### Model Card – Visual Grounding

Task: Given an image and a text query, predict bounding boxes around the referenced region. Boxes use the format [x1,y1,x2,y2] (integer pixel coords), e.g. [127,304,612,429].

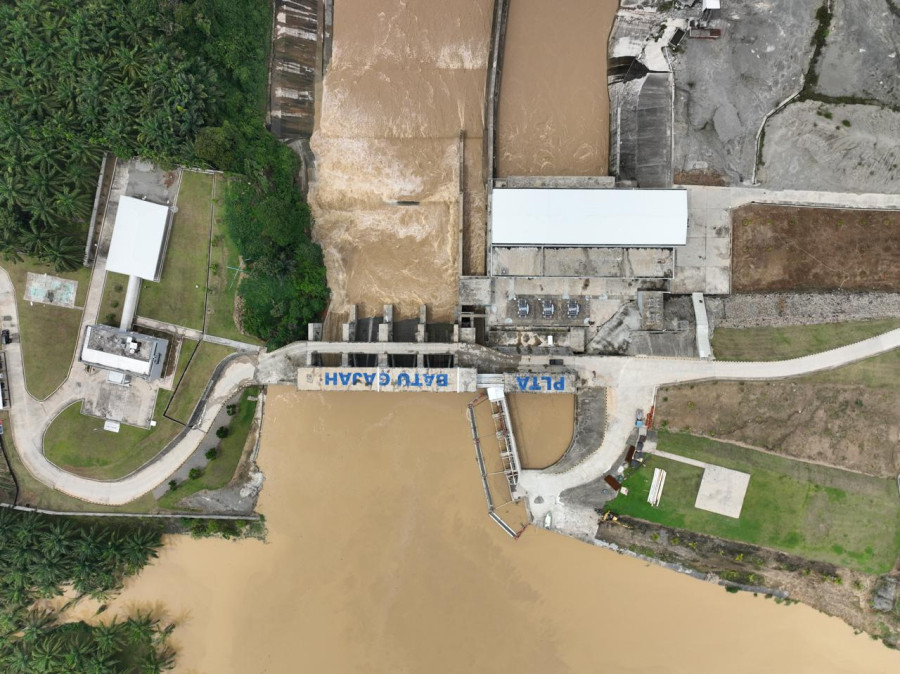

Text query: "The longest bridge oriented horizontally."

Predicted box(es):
[306,342,459,354]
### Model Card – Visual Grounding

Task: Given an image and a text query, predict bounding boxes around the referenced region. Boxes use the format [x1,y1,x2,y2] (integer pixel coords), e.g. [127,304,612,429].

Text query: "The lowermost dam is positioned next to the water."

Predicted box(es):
[308,305,463,367]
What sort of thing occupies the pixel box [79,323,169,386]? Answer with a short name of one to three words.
building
